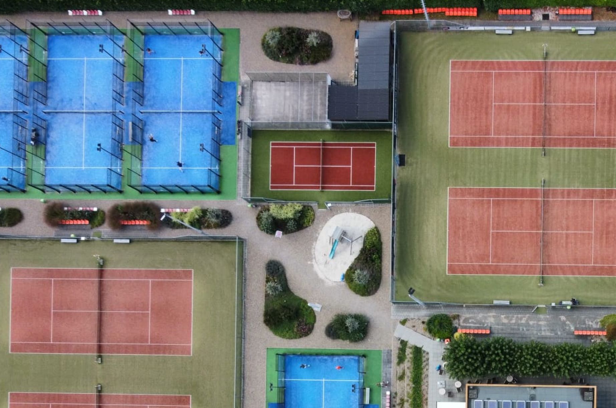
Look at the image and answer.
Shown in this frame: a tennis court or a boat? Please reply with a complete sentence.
This aerial view contains a tennis court.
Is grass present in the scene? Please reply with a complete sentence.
Yes, there is grass in the image.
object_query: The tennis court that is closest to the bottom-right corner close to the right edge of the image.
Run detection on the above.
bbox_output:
[446,179,616,283]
